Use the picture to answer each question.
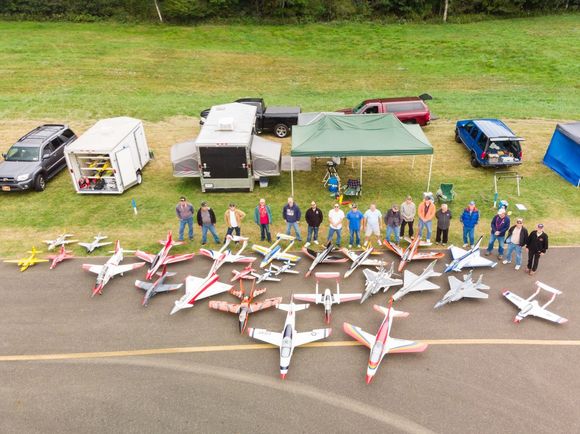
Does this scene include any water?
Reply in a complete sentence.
No, there's no water in this view.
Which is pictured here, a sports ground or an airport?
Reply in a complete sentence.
The picture captures an airport.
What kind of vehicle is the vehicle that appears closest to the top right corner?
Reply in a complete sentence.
It looks like the vehicle that appears closest to the top right corner is a car.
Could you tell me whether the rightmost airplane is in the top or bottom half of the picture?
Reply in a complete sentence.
The bottom half of the photo is where the rightmost airplane is.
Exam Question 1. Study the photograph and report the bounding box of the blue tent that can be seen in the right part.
[539,119,580,189]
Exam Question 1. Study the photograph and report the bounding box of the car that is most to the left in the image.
[0,124,77,190]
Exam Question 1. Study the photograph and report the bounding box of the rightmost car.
[455,116,535,167]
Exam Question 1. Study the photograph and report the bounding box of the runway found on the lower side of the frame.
[0,247,580,434]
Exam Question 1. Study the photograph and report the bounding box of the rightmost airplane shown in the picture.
[499,272,570,323]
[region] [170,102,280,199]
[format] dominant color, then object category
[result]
white camper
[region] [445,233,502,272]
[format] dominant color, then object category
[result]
white airplane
